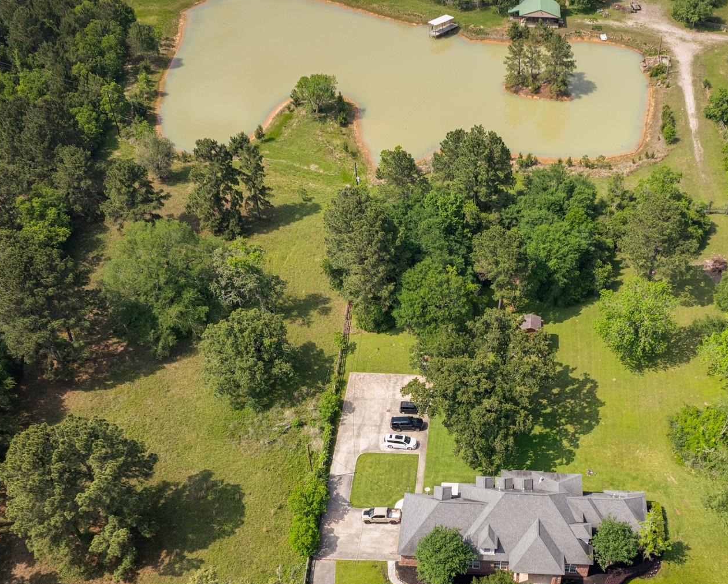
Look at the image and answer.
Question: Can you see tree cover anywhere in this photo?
Yes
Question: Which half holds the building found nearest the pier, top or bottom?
top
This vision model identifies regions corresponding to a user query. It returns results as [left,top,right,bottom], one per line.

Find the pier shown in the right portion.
[428,14,459,37]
